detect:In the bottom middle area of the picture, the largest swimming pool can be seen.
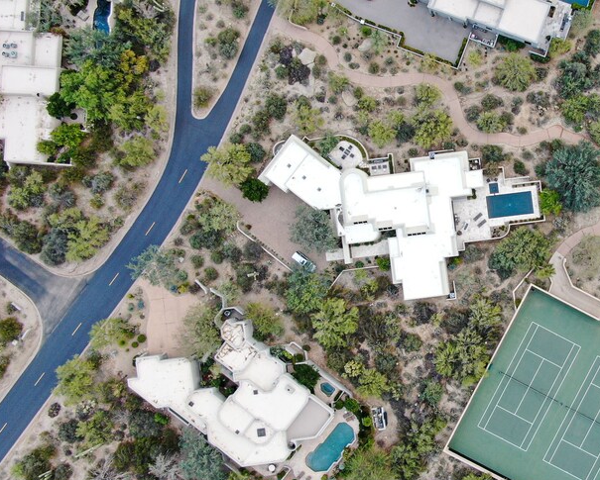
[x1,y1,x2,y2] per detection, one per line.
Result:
[303,421,356,474]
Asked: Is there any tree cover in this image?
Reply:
Yes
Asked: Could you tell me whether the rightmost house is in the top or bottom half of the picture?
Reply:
top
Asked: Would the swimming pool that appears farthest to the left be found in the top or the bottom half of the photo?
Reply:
top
